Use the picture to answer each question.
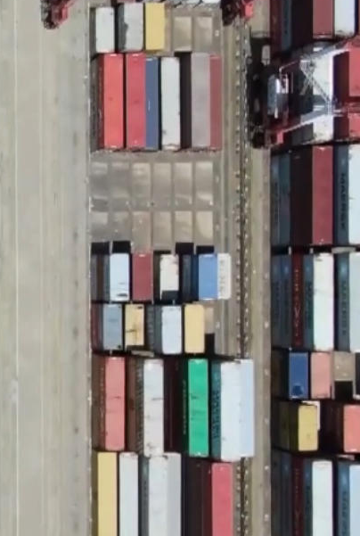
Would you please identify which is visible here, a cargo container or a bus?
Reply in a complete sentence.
The one in the frame is a cargo container.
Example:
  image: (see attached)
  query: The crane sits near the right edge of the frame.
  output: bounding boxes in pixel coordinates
[251,30,360,153]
